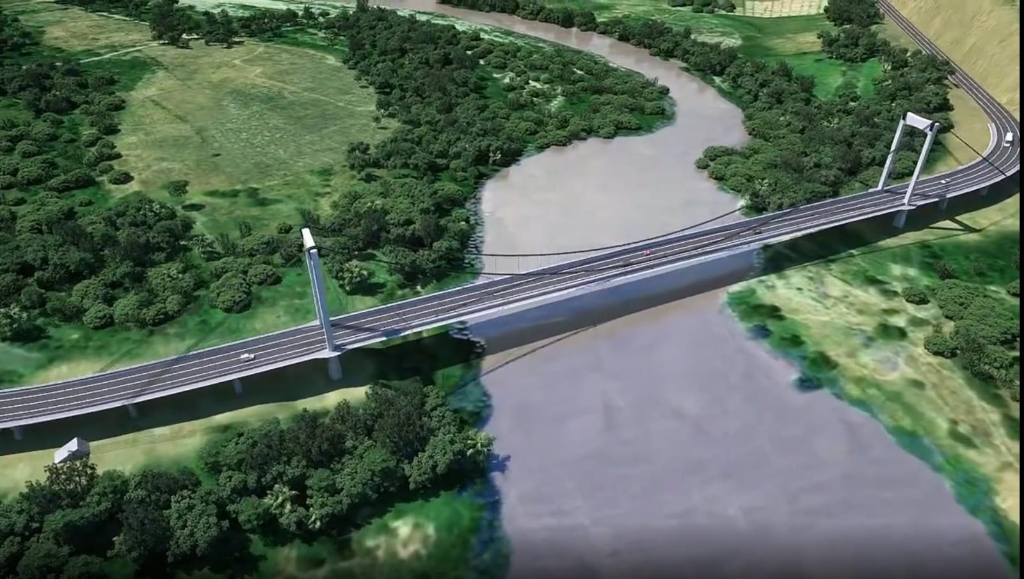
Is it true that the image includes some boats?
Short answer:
No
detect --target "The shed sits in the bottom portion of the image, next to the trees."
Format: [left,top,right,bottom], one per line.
[60,440,93,469]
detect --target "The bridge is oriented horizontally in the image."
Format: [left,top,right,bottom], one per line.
[0,114,1024,441]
